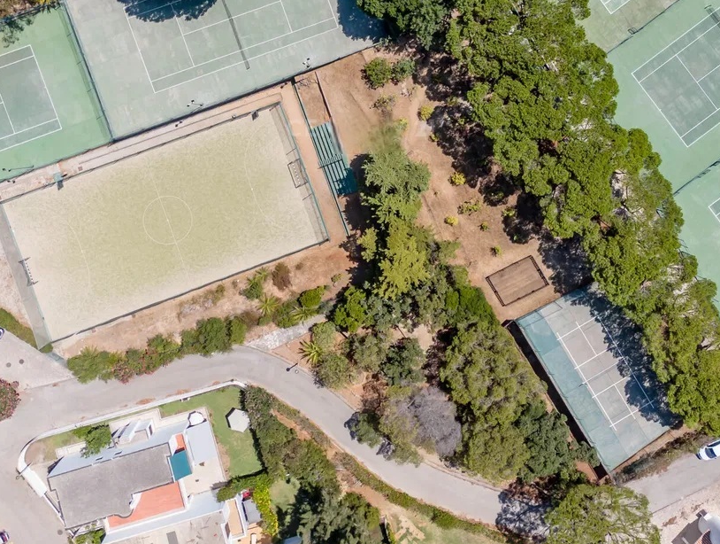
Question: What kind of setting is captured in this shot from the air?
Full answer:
This image shows a sports ground.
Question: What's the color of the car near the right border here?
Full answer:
The car near the right border is white.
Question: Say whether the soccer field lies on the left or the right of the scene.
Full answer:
The soccer field sits on the left side.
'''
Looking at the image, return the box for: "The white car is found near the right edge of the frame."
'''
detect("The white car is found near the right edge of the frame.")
[695,436,720,461]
